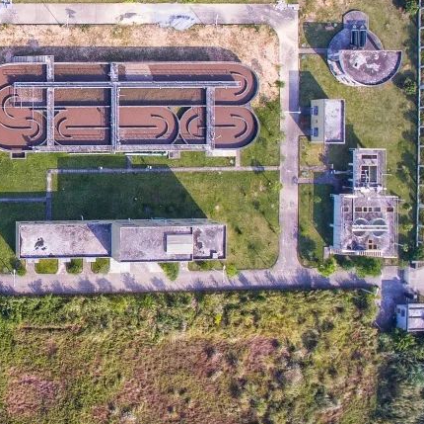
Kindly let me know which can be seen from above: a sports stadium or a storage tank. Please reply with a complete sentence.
The image shows a storage tank.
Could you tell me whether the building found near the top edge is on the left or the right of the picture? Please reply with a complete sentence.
The building found near the top edge sits on the right side.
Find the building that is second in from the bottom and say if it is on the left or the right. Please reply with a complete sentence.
You can find the building that is second in from the bottom on the left side of the picture.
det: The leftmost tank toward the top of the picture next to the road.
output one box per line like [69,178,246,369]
[0,55,259,158]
